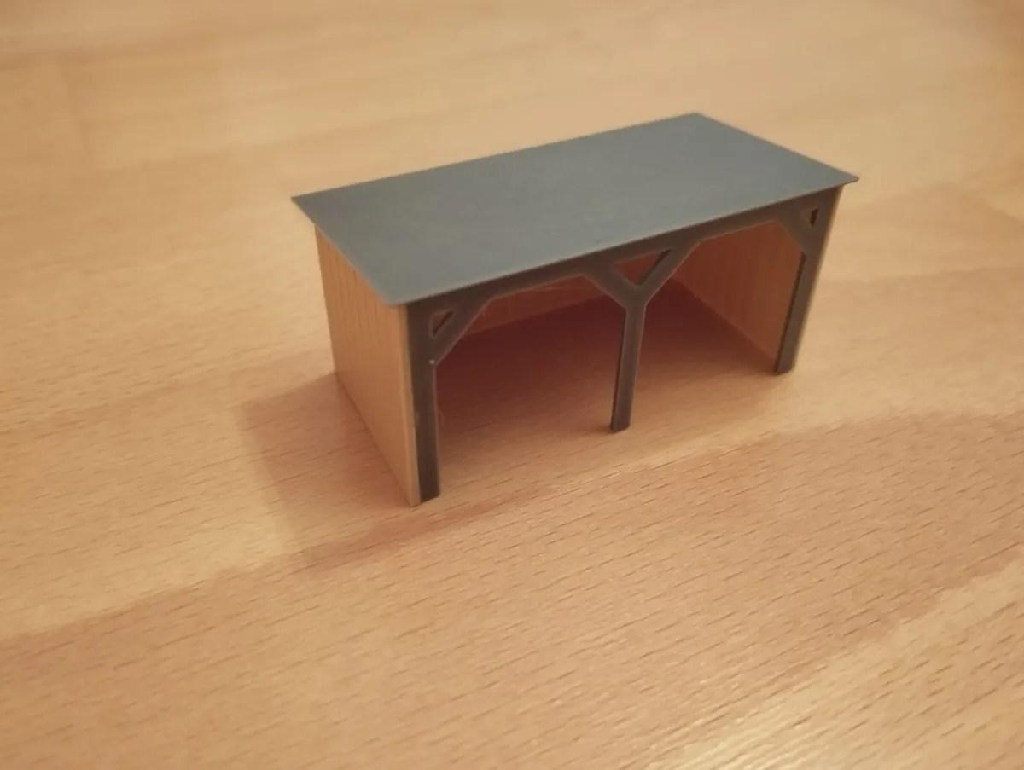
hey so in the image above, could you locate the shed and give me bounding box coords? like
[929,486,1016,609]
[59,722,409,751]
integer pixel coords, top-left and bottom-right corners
[293,113,858,505]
